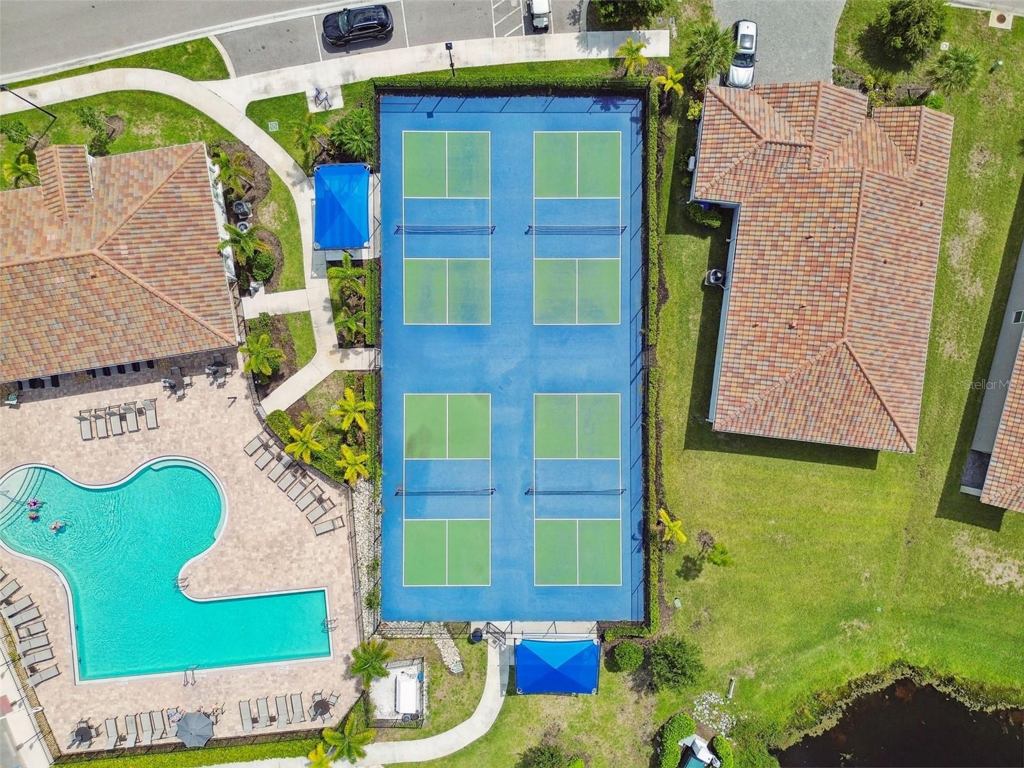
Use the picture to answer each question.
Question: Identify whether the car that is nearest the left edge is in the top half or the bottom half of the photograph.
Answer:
top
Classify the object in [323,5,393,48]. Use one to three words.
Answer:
car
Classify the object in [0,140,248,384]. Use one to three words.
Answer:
building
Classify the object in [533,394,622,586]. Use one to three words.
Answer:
sports court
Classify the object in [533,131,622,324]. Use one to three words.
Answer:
sports court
